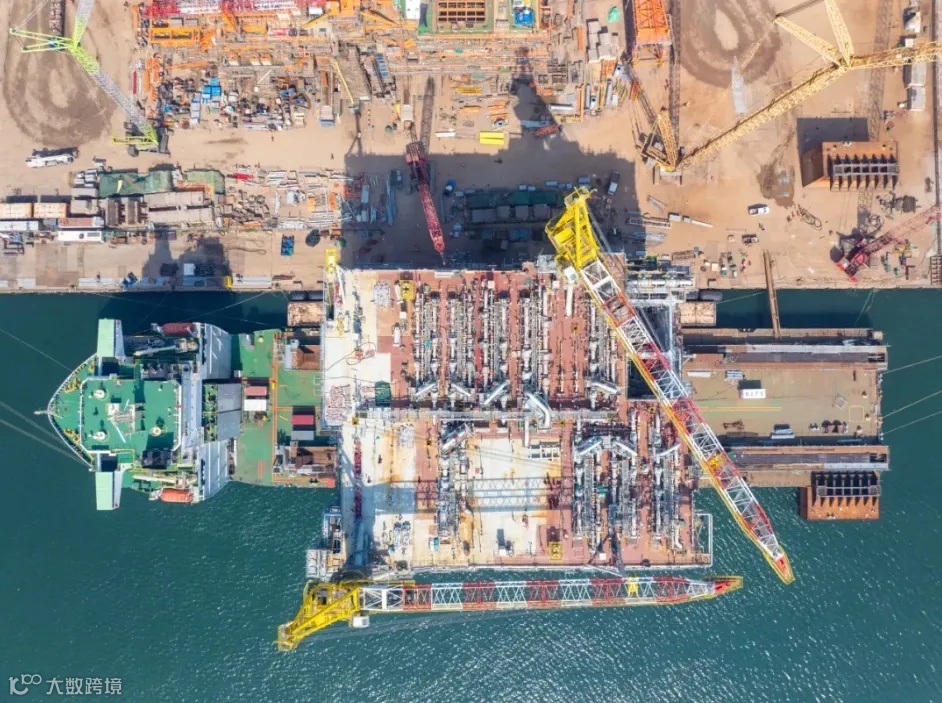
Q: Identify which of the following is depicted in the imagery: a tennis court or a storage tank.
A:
storage tank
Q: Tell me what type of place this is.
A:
port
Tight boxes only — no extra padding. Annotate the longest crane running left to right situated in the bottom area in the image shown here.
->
[274,569,748,661]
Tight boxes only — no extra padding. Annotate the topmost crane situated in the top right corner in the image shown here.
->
[632,0,942,188]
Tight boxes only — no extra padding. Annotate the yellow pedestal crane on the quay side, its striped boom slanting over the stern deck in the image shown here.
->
[528,173,800,590]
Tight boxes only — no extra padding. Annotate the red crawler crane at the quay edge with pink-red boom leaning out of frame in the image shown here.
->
[828,202,942,282]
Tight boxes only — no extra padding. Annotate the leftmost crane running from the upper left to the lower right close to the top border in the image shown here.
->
[8,0,167,170]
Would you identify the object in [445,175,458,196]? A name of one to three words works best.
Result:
vehicle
